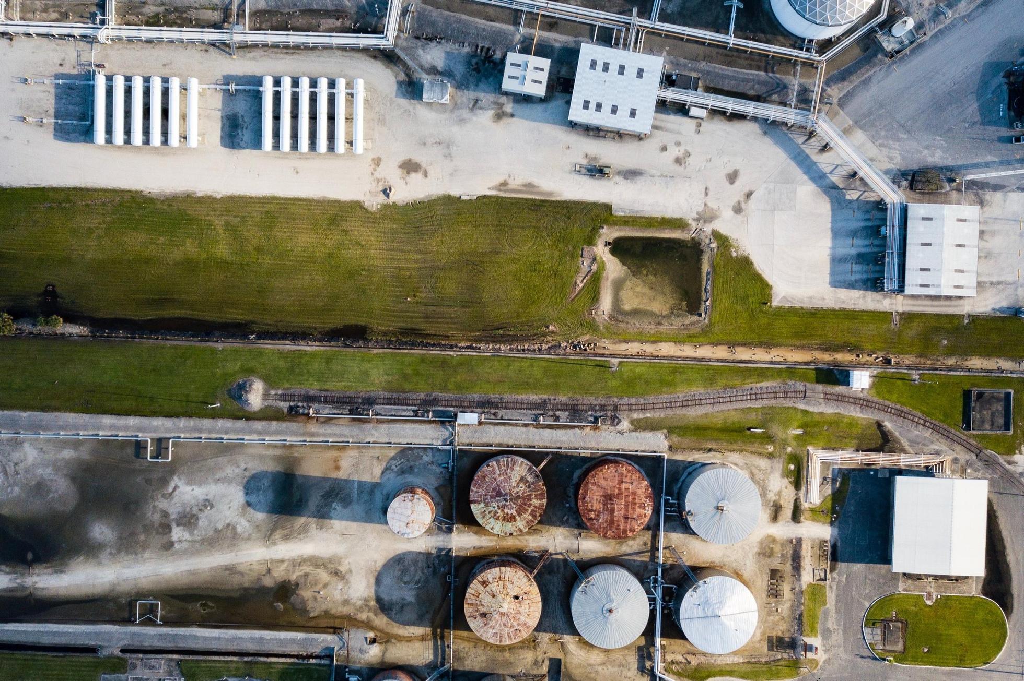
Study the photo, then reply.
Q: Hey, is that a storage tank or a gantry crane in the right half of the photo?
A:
storage tank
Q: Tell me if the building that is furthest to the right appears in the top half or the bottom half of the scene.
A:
bottom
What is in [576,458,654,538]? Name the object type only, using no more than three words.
storage tank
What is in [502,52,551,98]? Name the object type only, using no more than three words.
building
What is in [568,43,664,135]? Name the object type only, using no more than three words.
building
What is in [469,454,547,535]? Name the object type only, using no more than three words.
storage tank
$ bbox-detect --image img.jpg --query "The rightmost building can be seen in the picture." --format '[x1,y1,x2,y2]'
[886,476,988,576]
